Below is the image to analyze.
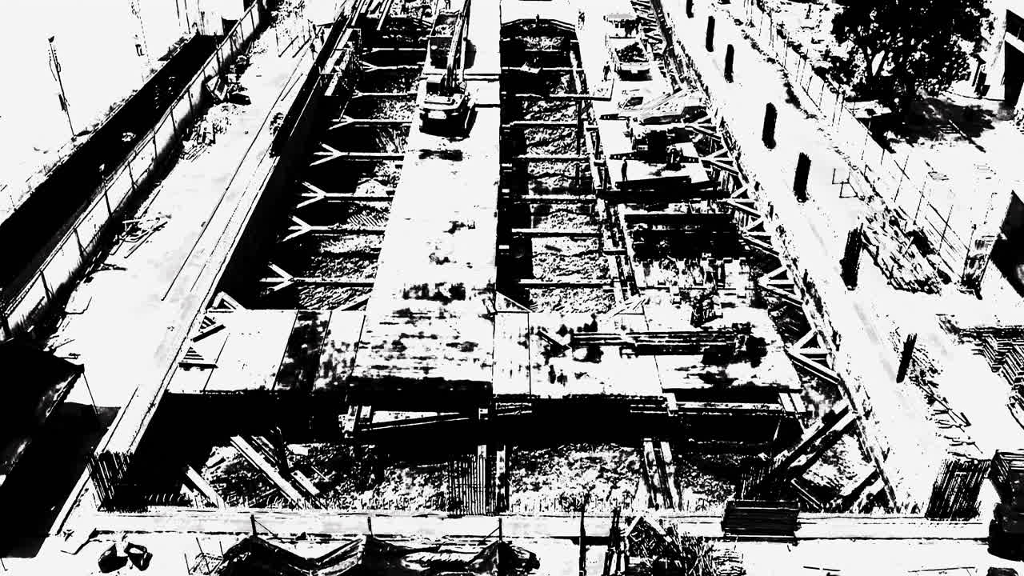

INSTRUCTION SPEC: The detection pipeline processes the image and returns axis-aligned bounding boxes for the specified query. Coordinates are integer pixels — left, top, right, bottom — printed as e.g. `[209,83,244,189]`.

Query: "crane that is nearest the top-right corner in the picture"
[611,61,715,153]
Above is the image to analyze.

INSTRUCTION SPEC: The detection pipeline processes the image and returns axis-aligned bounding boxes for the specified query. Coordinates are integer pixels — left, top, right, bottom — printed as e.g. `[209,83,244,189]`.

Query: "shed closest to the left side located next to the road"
[0,343,95,542]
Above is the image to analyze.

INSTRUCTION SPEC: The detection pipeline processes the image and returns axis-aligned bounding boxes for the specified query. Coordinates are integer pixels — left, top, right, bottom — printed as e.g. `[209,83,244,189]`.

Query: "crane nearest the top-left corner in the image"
[417,0,482,126]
